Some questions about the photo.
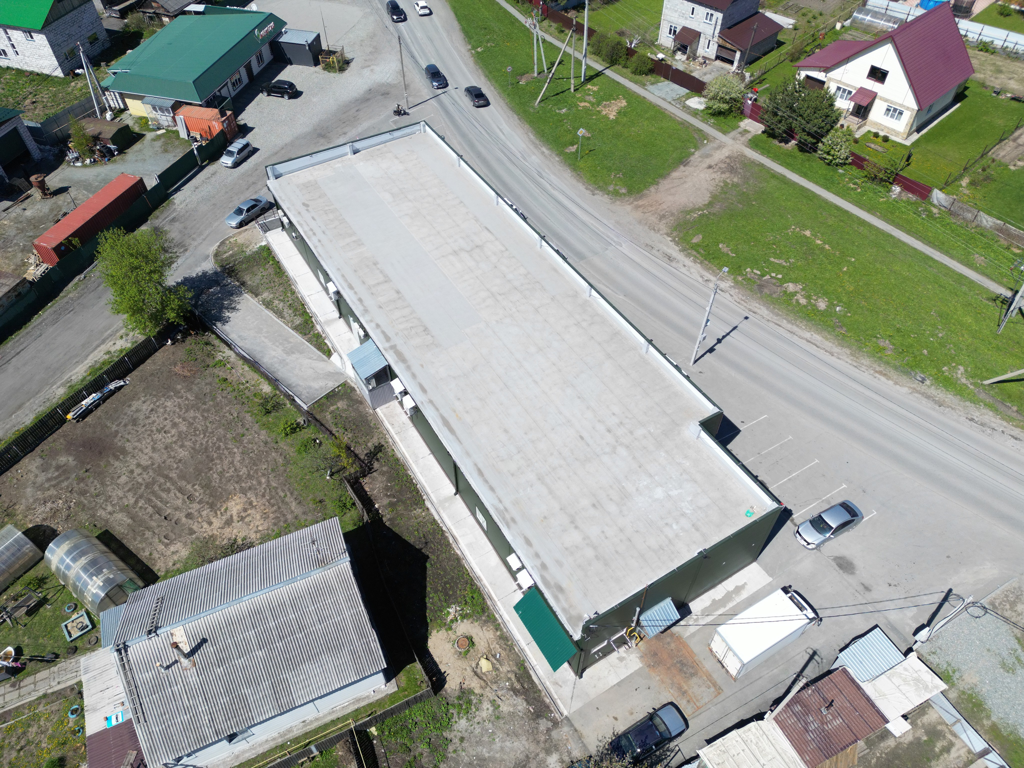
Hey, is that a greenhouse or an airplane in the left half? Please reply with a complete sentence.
The feature located in the left half is a greenhouse.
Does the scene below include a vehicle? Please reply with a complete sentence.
Yes, you can see a vehicle in this photo.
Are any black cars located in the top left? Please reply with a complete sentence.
Yes, you'll find a black car in the top left.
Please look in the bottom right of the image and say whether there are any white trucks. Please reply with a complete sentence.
Yes, you'll find a white truck in the bottom right of the image.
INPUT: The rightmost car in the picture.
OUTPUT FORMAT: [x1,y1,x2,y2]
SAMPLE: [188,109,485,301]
[795,501,865,552]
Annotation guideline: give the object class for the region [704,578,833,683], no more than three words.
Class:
truck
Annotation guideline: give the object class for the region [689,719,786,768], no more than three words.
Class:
shed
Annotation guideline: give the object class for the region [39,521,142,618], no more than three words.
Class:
greenhouse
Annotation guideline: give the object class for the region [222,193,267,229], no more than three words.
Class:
car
